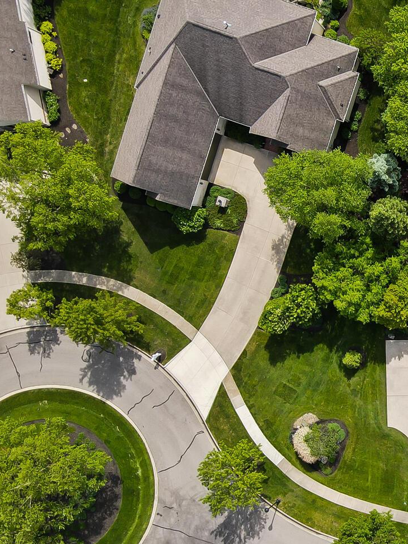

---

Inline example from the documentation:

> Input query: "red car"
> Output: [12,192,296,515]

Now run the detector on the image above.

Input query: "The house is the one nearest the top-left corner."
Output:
[0,0,55,132]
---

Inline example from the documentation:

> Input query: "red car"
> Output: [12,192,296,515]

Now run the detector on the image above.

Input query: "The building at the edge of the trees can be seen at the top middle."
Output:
[110,0,371,210]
